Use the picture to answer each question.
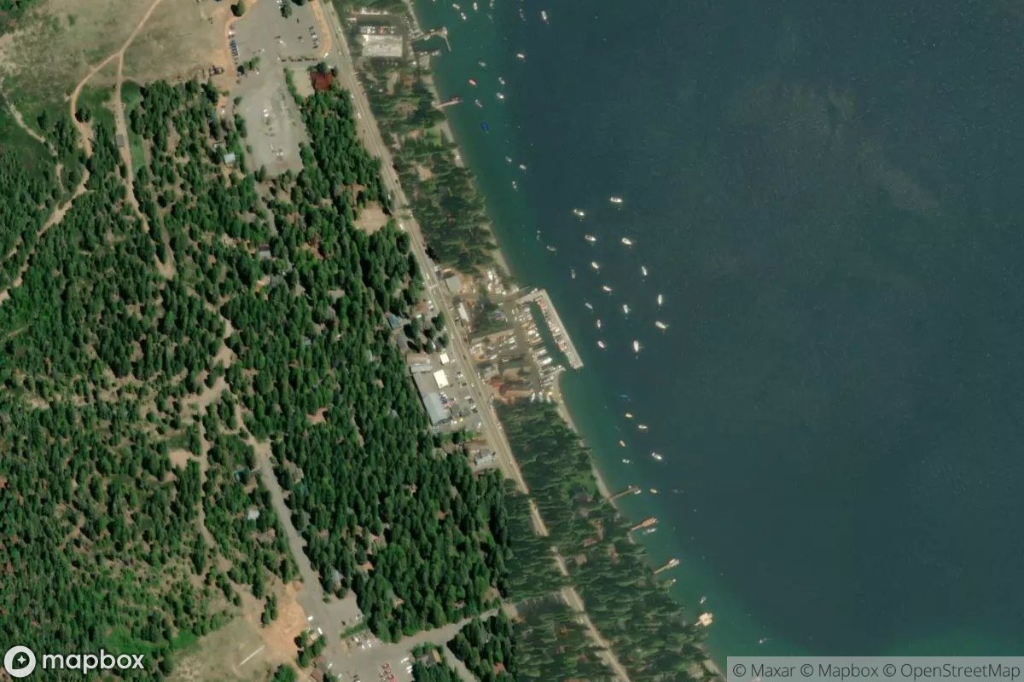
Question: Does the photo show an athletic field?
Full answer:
No, the scene contains no athletic field.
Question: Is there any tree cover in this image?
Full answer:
Yes, the picture does contain tree cover.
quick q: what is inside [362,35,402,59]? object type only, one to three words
building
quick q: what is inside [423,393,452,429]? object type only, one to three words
building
